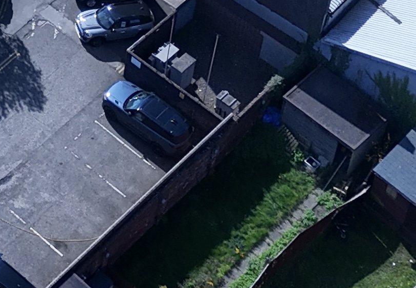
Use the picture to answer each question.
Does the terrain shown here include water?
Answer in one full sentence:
No, water can't be seen anywhere here.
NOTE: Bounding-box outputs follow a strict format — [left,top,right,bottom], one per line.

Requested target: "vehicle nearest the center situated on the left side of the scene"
[105,84,194,155]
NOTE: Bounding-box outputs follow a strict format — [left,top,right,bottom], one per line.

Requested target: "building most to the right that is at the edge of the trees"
[364,121,416,244]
